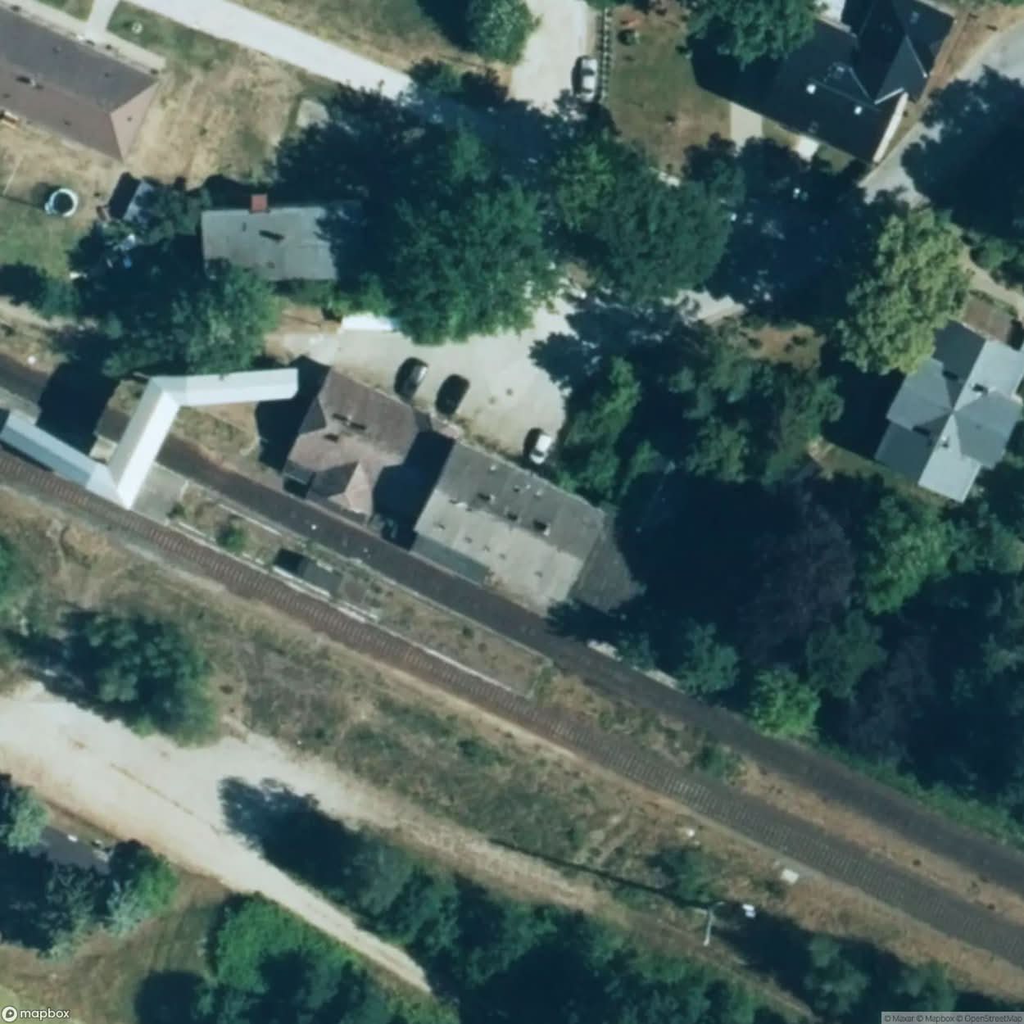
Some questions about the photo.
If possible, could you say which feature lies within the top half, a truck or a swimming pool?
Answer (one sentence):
What appears within the top half is a swimming pool.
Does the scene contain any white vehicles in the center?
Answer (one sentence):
Yes, a white vehicle is visible in the center.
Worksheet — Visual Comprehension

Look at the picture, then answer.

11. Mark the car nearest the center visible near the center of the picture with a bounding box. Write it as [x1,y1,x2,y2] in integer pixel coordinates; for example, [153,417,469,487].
[529,428,555,466]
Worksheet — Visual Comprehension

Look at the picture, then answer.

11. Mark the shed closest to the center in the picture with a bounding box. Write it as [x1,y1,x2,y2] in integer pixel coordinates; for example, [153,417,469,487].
[403,437,607,599]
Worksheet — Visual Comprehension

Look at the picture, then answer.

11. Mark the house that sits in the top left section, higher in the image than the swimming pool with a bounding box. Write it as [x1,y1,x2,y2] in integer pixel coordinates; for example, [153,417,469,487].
[0,4,159,160]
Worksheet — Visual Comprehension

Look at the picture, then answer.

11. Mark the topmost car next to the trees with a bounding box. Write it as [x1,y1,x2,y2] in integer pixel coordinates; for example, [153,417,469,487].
[578,57,597,100]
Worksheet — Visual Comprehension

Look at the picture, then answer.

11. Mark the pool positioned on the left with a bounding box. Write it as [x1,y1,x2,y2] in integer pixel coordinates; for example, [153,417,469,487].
[46,186,78,218]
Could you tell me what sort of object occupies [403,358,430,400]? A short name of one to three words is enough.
car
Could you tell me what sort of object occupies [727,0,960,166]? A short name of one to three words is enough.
house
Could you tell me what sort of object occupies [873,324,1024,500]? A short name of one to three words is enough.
house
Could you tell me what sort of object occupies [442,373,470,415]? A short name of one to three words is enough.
car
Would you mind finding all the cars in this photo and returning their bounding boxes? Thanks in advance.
[442,373,470,415]
[578,57,597,100]
[403,358,430,400]
[529,428,555,466]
